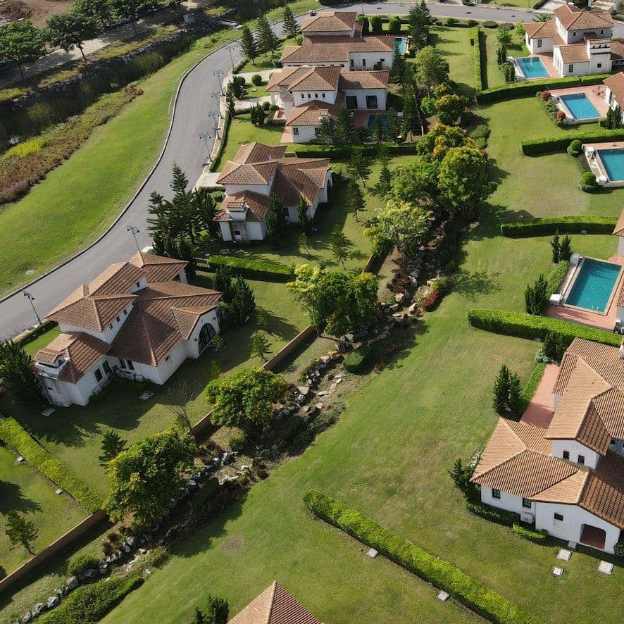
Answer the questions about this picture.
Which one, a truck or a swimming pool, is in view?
swimming pool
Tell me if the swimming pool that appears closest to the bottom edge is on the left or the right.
right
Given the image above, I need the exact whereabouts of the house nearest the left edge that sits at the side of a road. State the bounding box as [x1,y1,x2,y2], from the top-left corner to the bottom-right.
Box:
[21,250,229,409]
